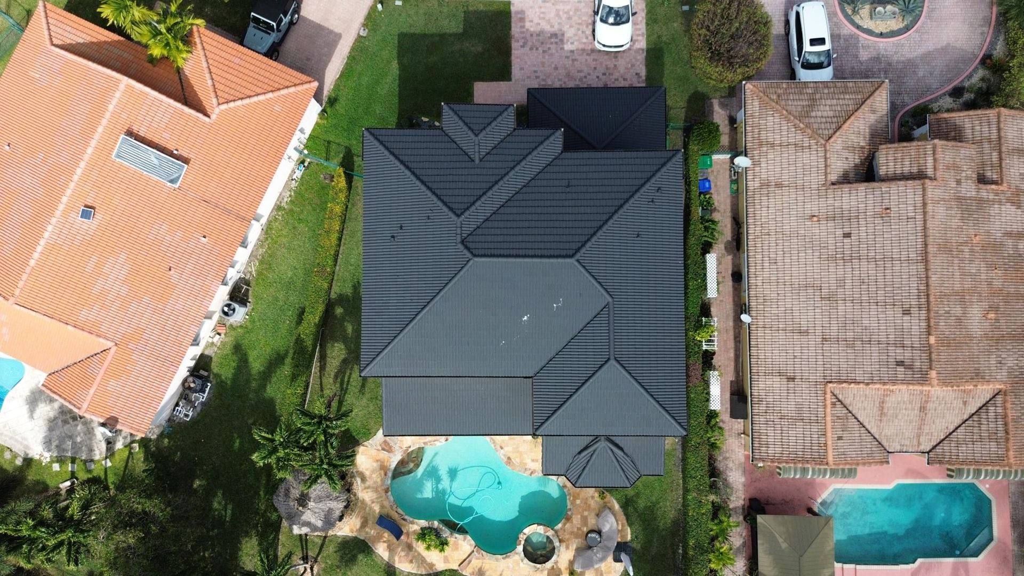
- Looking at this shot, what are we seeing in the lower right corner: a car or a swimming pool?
swimming pool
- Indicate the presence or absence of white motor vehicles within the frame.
Yes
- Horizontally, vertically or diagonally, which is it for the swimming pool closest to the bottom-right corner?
horizontally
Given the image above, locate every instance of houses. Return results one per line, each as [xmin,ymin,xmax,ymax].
[730,78,1024,480]
[359,85,689,489]
[0,0,326,438]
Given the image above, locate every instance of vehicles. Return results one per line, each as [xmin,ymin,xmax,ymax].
[788,0,841,79]
[244,0,310,64]
[591,0,638,51]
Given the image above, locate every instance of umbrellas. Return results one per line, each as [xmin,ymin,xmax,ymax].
[619,551,635,576]
[276,455,360,536]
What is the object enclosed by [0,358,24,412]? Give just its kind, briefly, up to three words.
swimming pool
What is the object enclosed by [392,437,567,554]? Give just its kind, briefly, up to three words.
swimming pool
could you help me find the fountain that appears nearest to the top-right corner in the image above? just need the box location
[870,5,898,19]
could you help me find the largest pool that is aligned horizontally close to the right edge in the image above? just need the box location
[821,484,991,563]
